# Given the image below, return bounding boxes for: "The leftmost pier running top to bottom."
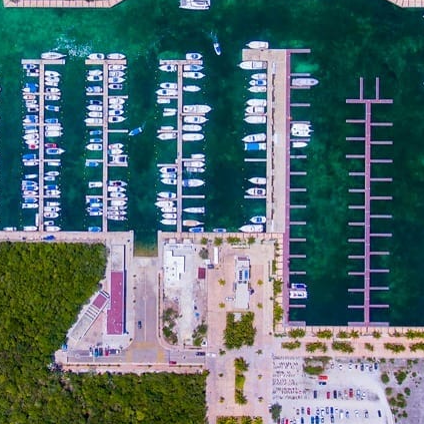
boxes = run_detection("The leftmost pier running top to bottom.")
[22,59,66,232]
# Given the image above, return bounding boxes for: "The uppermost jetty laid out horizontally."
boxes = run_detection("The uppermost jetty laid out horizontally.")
[242,50,267,62]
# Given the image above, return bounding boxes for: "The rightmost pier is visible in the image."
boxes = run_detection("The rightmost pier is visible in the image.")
[346,78,393,326]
